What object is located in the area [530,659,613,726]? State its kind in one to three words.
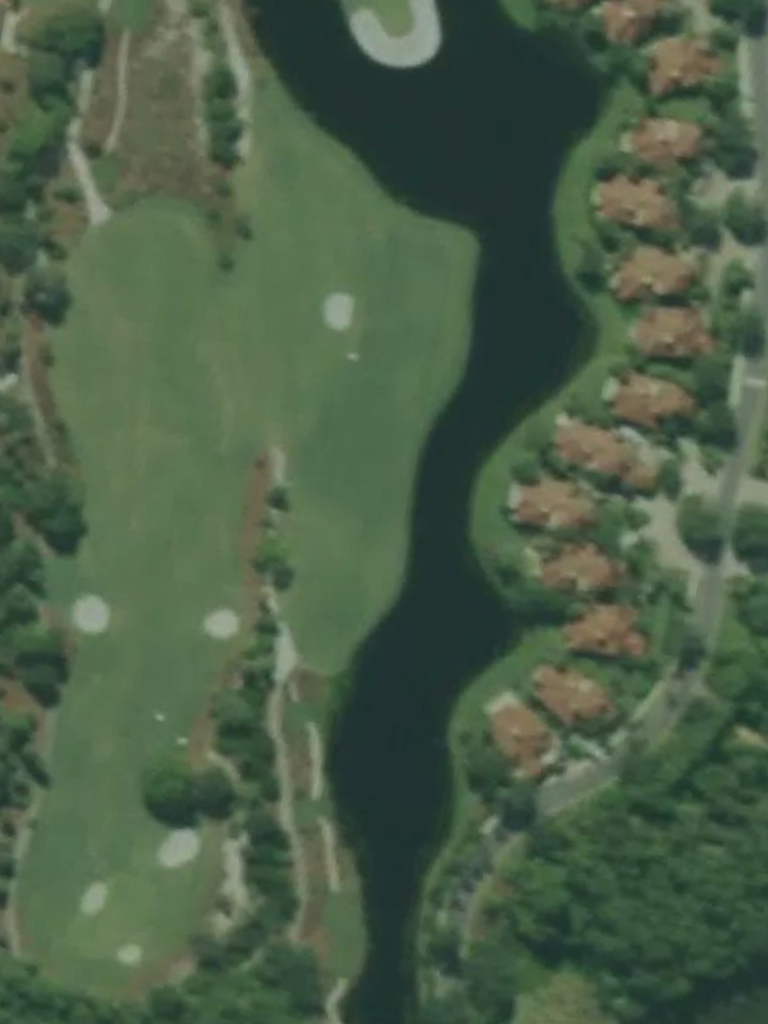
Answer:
house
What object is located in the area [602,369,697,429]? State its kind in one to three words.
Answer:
house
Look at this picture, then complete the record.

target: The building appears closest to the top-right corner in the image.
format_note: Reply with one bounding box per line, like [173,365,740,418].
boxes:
[645,32,723,92]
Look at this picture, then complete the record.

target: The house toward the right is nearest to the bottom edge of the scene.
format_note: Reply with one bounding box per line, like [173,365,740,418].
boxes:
[486,694,561,778]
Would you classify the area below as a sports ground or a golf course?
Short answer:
golf course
